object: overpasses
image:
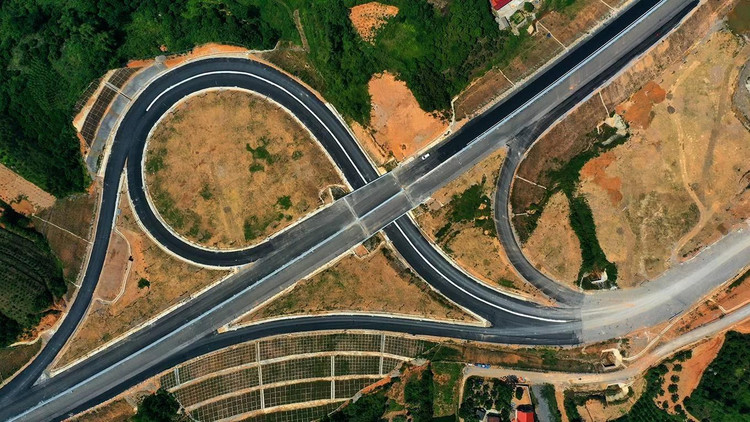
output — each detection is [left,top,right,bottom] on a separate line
[344,173,414,237]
